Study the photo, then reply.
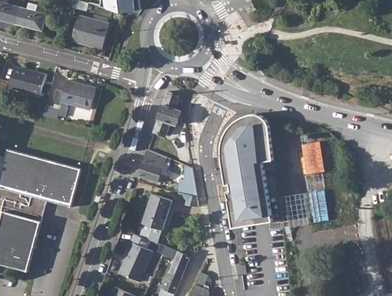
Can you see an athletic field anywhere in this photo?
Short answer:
No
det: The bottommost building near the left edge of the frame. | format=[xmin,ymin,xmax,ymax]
[0,213,42,272]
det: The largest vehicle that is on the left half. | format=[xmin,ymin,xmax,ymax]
[129,121,144,152]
